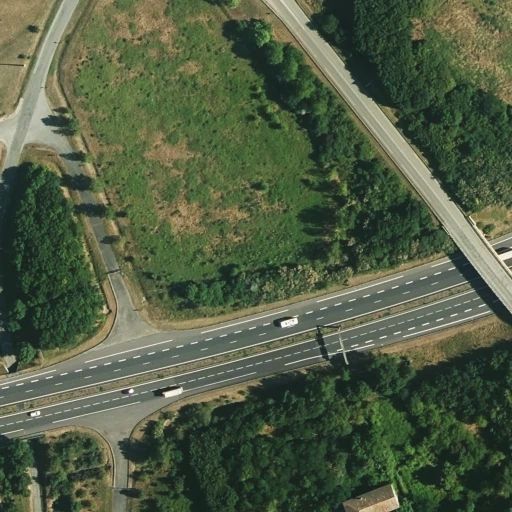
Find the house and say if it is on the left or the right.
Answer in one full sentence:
The house appears in the right half of the scene.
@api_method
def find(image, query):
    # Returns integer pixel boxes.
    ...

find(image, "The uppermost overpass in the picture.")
[434,200,512,316]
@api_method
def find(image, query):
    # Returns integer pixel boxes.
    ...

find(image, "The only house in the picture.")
[342,484,400,512]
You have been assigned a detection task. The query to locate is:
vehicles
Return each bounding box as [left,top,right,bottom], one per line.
[30,410,42,416]
[162,386,183,398]
[124,389,133,394]
[498,250,512,260]
[280,318,297,327]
